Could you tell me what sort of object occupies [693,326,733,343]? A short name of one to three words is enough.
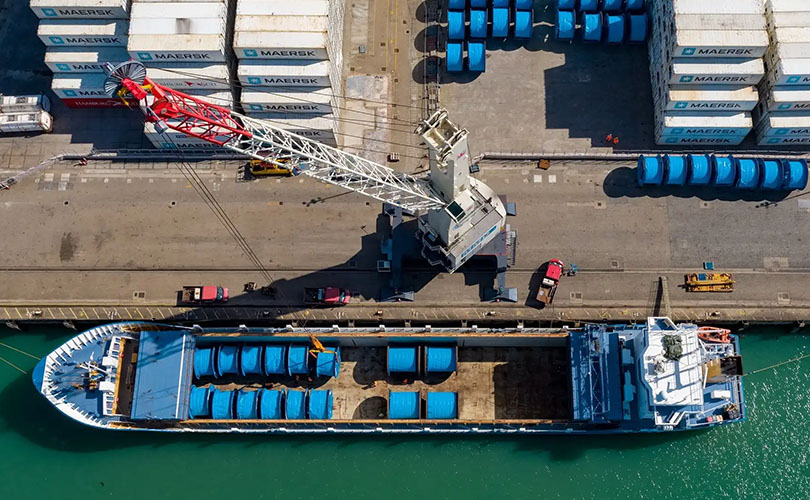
boat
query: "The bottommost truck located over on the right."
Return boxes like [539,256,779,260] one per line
[531,258,560,306]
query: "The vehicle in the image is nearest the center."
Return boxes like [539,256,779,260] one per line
[301,287,350,305]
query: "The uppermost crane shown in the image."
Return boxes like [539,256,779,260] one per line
[104,63,522,350]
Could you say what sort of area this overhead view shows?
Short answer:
port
